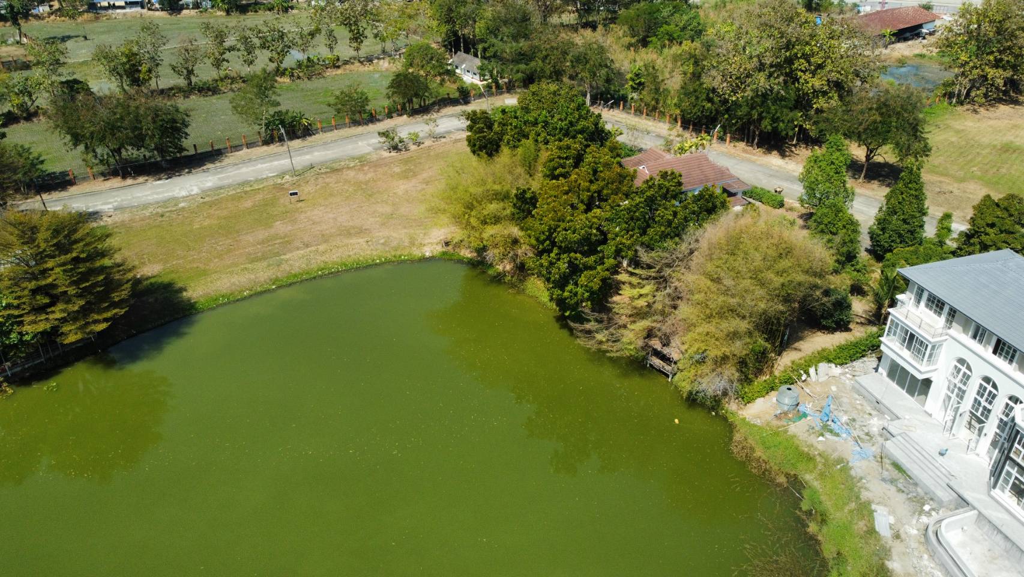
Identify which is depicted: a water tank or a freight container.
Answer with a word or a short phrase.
water tank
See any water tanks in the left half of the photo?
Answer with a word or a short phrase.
No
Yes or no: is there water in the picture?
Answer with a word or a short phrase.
Yes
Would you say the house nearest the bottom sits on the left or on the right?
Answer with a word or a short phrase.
right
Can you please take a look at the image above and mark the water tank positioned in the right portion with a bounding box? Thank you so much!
[770,390,802,427]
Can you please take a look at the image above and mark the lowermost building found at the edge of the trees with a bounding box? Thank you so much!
[876,248,1024,516]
